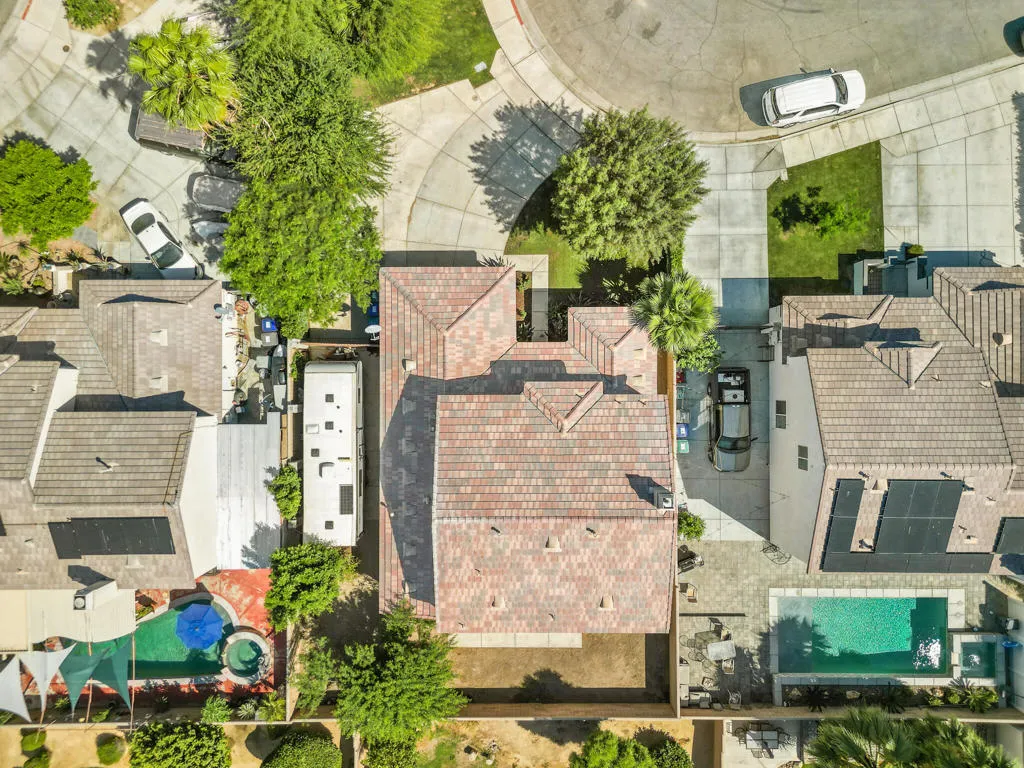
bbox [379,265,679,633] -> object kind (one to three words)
house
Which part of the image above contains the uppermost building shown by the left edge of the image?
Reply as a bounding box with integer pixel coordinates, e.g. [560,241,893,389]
[0,278,240,614]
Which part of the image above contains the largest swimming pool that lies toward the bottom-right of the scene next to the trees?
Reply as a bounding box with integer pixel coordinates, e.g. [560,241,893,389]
[769,588,966,683]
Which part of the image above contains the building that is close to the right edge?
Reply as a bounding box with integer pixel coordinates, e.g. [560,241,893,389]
[769,265,1024,574]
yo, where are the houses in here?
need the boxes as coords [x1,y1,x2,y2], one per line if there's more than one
[379,265,679,633]
[0,278,240,614]
[769,265,1024,574]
